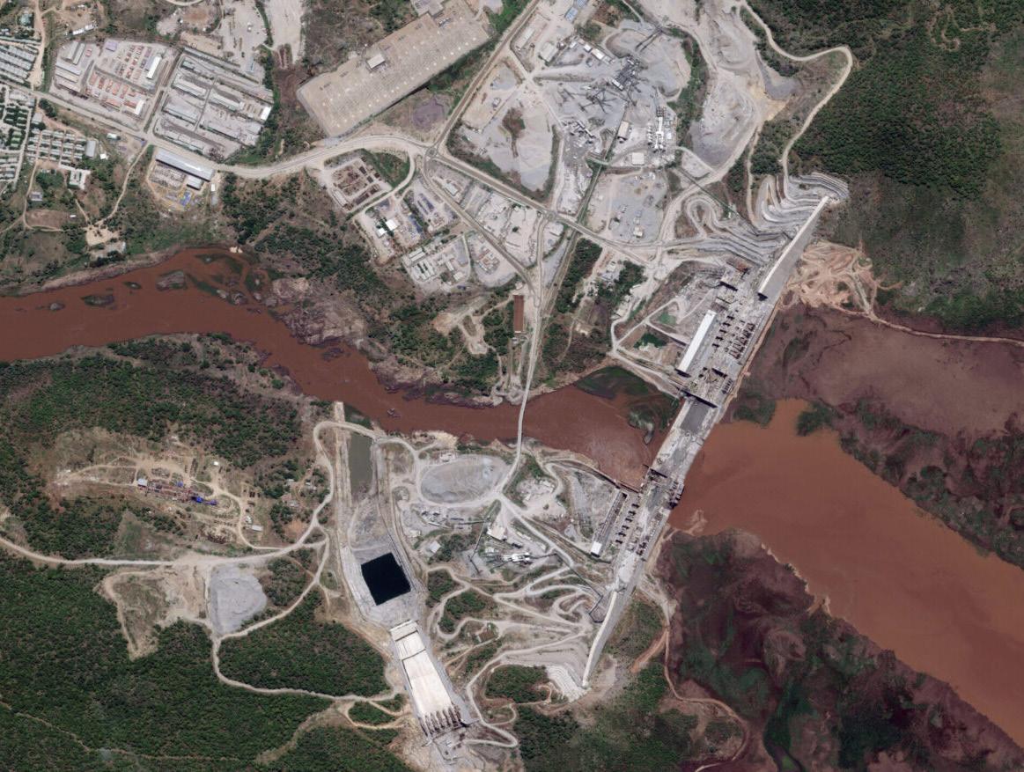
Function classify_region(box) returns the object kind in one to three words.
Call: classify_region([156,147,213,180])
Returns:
building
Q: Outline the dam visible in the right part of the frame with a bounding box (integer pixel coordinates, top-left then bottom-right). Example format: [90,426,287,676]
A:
[583,195,830,689]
